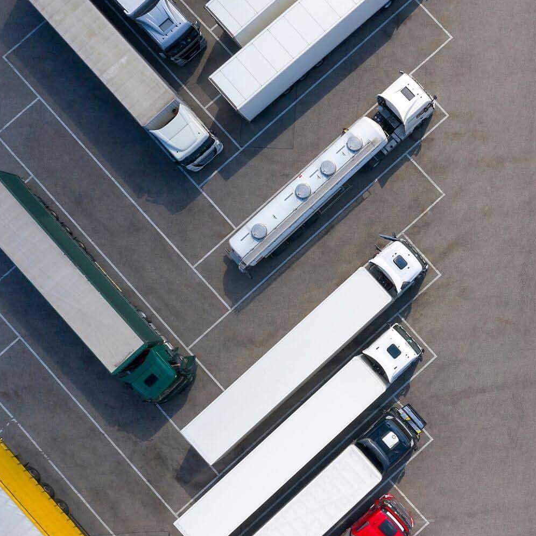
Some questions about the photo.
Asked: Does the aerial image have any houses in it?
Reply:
No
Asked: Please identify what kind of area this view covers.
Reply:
parking lot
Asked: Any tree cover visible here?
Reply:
No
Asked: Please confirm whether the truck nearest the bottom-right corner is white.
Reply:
No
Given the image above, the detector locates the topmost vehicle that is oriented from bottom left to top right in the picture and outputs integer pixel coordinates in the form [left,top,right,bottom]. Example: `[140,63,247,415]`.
[209,0,392,123]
